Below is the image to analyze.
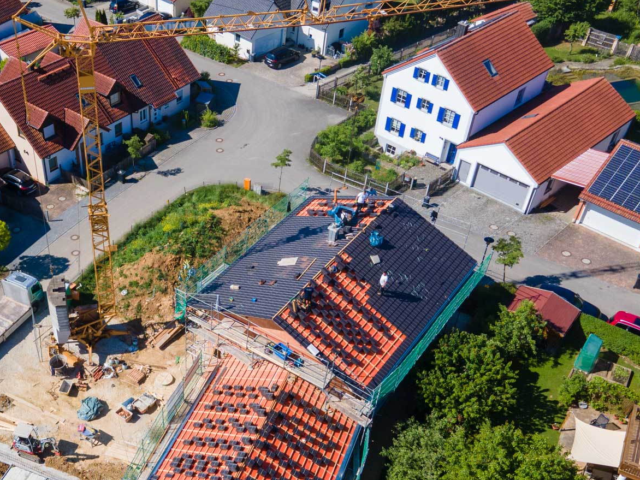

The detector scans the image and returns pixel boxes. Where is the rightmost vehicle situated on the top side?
[264,47,299,69]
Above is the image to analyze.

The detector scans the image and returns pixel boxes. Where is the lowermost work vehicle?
[12,416,71,460]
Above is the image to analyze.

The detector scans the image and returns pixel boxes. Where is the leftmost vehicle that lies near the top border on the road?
[111,0,139,14]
